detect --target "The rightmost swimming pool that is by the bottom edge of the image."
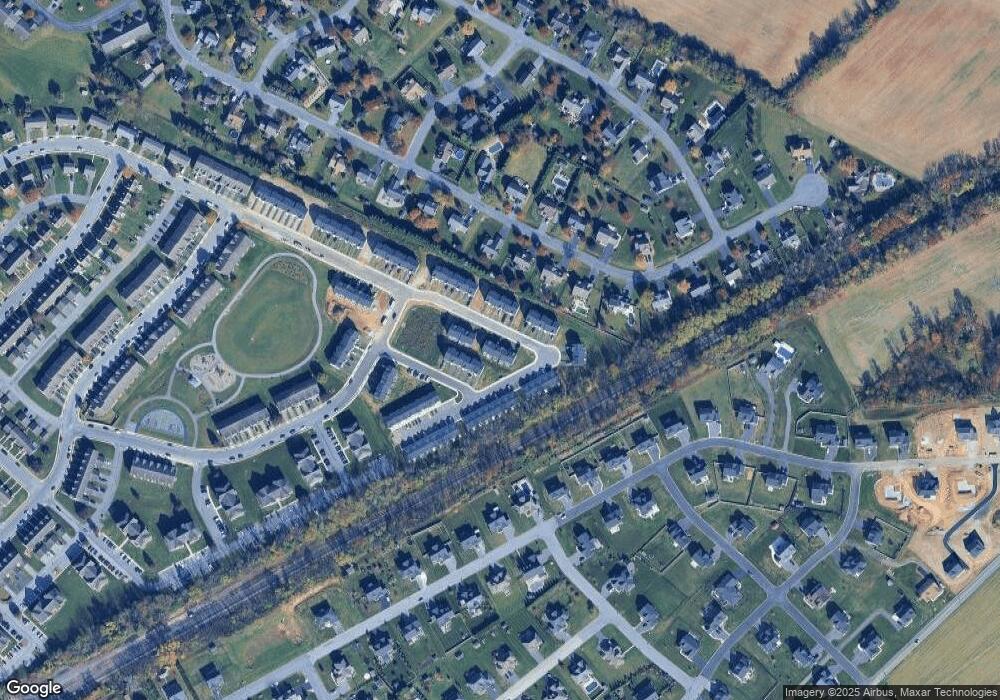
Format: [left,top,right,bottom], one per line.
[583,678,602,695]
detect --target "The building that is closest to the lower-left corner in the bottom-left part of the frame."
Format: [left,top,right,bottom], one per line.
[28,587,70,624]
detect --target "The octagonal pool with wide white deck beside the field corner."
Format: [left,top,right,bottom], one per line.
[874,174,894,190]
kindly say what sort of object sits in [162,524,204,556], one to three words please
building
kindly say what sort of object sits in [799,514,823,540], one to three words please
house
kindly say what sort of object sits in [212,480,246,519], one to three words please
building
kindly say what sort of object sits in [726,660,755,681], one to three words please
house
